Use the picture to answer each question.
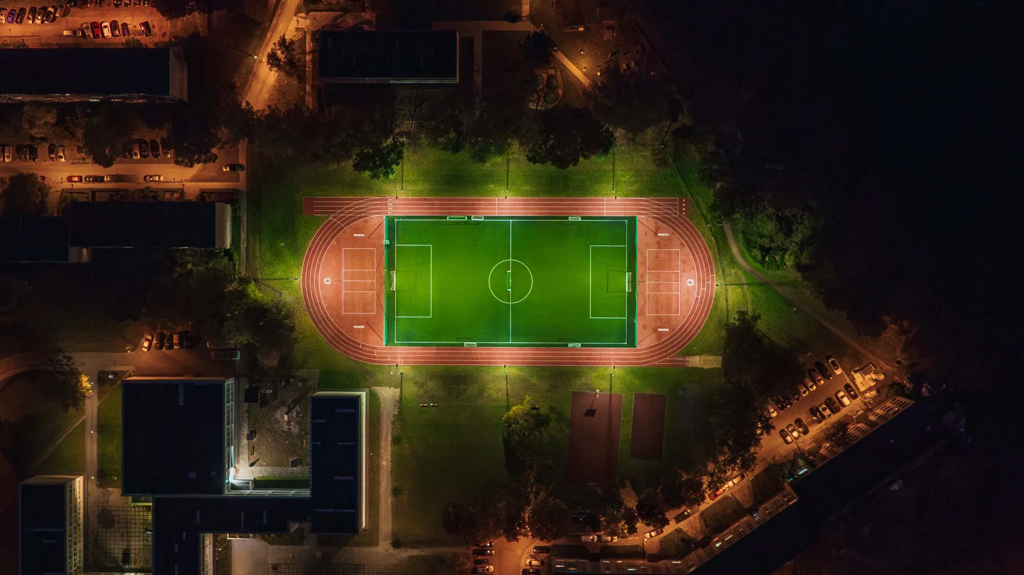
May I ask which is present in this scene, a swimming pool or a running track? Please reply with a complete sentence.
Of the two, only a running track appears.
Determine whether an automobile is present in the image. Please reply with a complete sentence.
Yes, there's an automobile here.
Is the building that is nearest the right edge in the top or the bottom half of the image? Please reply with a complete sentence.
It is in the bottom half that the building that is nearest the right edge appears.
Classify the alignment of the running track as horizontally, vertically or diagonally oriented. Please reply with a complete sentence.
The running track has been laid out horizontally relative to the frame.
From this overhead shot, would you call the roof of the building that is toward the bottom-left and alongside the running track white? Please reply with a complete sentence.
No, the roof of the building that is toward the bottom-left and alongside the running track is black.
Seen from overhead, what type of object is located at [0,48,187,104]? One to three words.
building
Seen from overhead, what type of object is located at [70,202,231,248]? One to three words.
building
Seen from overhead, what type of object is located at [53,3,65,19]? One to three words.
vehicle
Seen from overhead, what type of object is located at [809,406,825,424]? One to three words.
car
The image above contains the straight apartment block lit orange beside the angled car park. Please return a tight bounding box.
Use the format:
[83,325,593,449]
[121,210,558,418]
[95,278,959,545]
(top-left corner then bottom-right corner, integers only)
[777,396,945,528]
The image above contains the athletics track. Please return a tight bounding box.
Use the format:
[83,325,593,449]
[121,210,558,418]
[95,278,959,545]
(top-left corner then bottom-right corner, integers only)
[301,215,715,367]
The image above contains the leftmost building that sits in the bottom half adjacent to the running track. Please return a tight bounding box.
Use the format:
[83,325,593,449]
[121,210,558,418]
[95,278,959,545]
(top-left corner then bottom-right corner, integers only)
[122,379,364,575]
